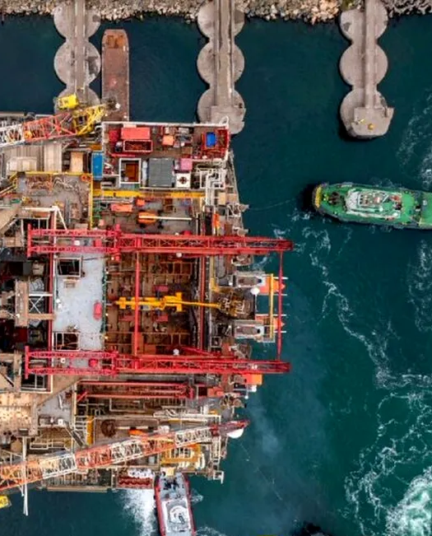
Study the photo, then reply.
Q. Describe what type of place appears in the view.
port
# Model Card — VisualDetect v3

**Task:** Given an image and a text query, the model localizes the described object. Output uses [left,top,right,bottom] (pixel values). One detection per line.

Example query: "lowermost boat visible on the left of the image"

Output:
[149,476,196,536]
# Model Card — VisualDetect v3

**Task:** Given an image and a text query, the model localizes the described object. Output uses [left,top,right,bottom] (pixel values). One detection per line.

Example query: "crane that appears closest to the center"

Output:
[136,210,192,229]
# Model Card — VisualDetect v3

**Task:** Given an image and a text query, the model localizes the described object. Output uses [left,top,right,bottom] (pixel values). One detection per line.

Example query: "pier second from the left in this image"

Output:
[192,0,245,136]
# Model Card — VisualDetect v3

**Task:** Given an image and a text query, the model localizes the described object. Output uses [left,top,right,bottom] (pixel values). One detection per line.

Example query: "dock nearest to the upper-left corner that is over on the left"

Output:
[52,0,101,123]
